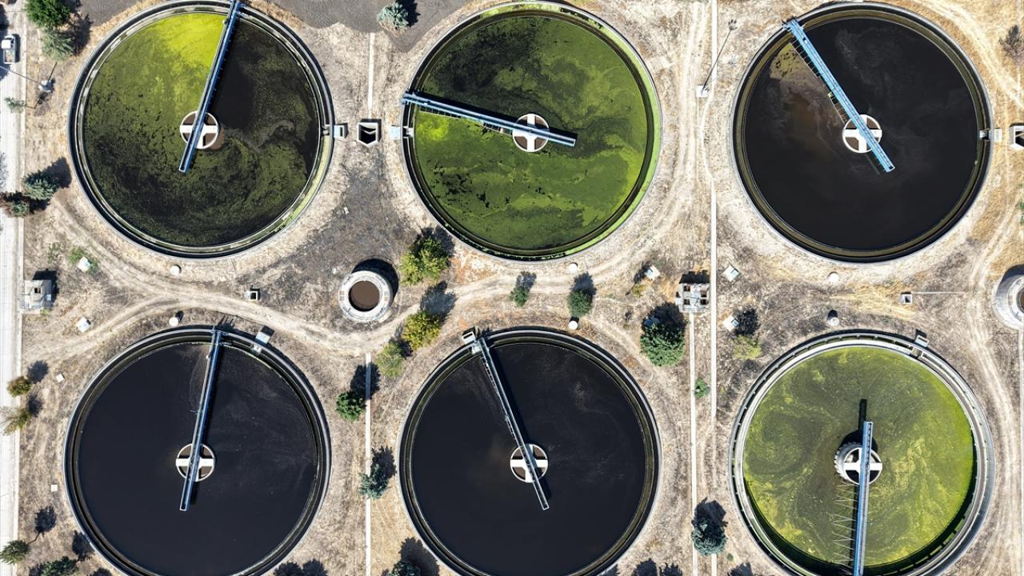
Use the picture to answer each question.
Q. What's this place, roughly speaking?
industrial area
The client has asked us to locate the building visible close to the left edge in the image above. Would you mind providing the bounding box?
[15,281,60,316]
